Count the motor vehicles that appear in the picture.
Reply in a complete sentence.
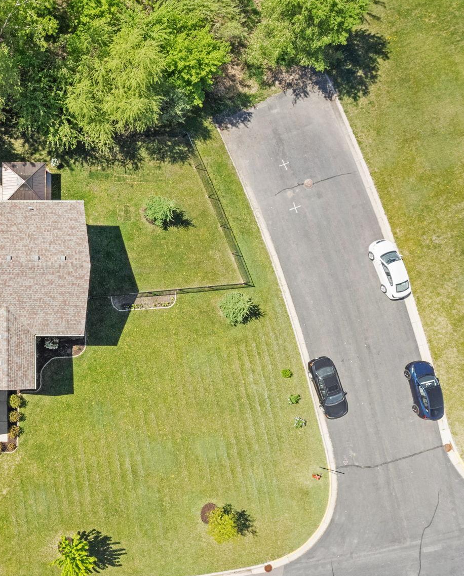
I count 3 motor vehicles.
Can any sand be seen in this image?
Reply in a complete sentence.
No, no sand is visible.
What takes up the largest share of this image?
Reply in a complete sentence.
For the most part, this view shows grass.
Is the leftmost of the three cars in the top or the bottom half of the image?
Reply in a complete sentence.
The leftmost of the three cars is in the bottom half of the image.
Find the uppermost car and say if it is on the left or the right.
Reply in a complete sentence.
You can find the uppermost car on the right side of the picture.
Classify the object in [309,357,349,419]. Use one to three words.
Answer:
car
